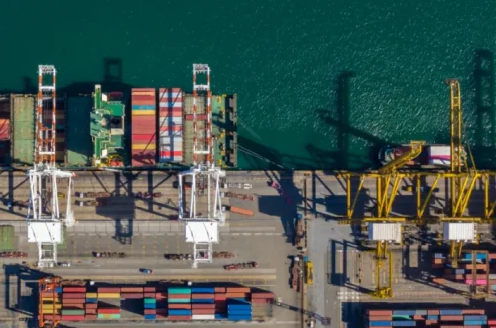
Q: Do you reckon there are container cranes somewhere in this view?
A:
Yes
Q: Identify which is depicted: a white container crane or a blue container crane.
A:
white container crane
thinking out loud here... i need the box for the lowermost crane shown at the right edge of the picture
[453,250,490,301]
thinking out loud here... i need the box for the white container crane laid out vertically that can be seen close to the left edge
[23,64,85,269]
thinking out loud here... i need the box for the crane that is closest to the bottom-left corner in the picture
[36,277,64,327]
